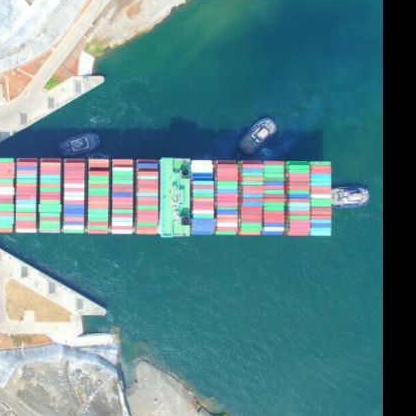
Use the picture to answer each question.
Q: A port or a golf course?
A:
port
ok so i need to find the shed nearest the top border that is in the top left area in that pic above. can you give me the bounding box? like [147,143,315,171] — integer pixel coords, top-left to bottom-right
[78,50,95,75]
